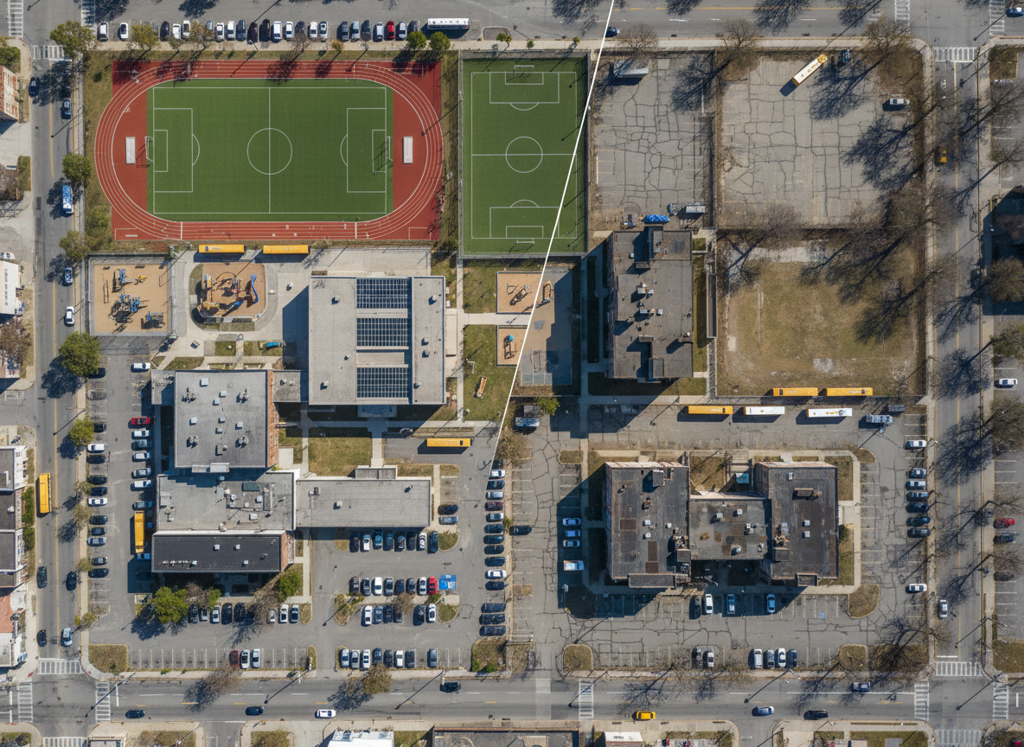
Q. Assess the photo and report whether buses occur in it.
Yes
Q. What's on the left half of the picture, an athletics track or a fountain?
athletics track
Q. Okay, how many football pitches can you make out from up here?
2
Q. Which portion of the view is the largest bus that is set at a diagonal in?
top right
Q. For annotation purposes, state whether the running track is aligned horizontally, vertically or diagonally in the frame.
horizontally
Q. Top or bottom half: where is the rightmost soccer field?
top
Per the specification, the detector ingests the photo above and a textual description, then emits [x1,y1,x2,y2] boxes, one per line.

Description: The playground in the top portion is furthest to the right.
[198,264,264,316]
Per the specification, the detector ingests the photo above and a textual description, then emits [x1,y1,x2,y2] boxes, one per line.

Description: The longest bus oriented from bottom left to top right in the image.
[787,53,830,91]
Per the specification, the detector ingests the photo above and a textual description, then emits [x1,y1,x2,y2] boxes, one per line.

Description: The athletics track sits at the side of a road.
[94,60,443,240]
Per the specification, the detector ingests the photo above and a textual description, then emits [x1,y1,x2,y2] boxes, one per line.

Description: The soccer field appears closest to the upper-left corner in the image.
[146,79,393,221]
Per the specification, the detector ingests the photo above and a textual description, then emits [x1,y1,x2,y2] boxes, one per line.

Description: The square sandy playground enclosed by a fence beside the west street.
[89,254,174,335]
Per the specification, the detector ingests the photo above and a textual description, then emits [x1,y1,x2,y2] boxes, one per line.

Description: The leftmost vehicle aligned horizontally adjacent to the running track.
[199,243,248,255]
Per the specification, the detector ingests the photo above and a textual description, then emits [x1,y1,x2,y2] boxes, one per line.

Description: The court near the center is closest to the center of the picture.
[522,342,572,386]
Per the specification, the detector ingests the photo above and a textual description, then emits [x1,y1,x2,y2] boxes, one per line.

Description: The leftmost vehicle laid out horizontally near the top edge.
[428,19,471,33]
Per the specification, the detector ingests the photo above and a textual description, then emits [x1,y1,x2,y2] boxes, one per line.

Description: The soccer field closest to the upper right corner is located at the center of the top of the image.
[460,50,587,257]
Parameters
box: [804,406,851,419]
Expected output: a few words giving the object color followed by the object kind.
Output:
white vehicle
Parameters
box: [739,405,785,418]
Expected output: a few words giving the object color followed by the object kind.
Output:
white vehicle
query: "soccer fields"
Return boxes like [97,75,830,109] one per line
[146,79,393,221]
[460,50,587,257]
